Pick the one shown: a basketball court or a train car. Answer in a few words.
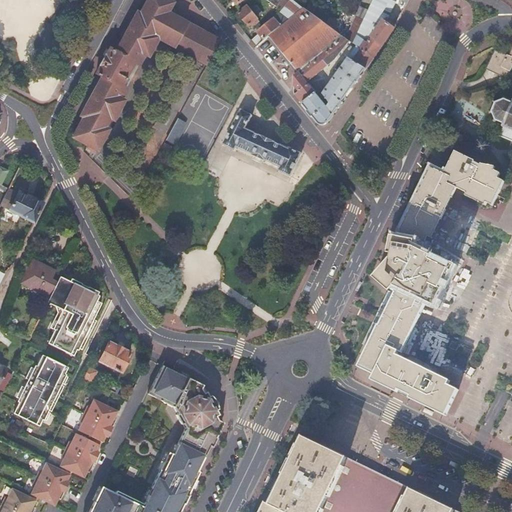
basketball court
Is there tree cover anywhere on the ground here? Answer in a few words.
Yes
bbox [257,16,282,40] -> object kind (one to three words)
house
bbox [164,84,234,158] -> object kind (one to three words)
basketball court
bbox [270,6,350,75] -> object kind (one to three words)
building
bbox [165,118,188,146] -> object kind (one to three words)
shed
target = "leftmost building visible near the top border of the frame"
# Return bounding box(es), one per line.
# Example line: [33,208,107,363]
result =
[80,0,222,142]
